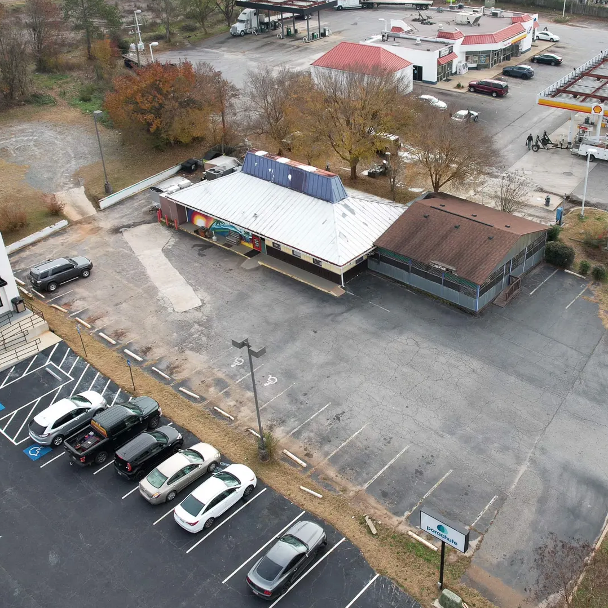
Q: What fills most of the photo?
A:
paved ground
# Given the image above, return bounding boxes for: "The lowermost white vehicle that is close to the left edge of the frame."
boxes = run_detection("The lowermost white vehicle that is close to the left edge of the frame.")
[28,391,115,448]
